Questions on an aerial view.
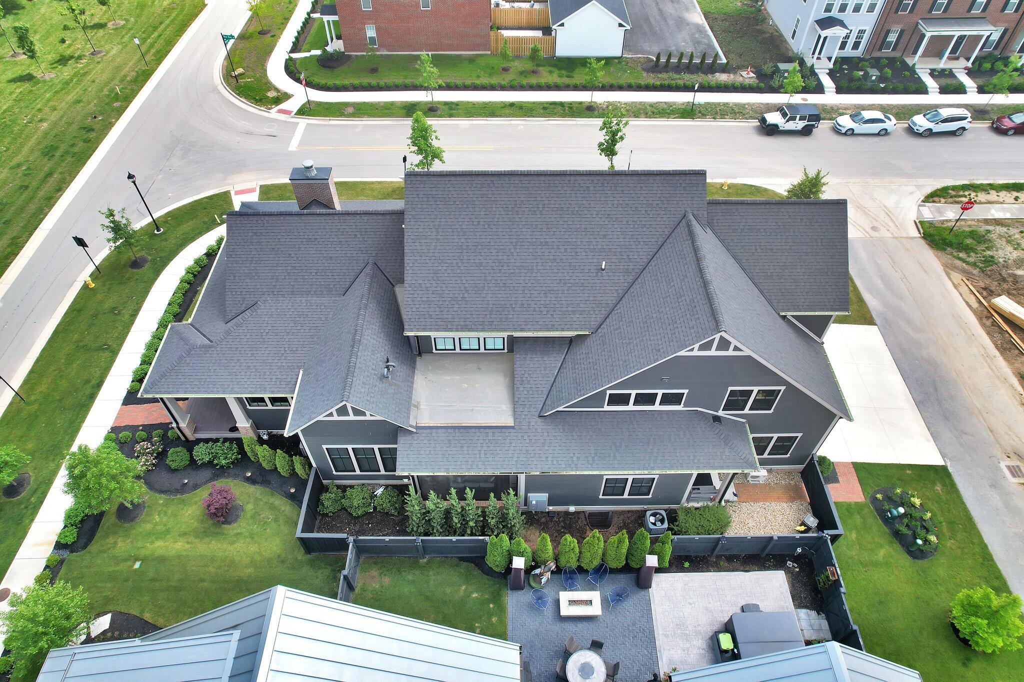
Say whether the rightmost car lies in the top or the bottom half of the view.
top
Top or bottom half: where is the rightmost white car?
top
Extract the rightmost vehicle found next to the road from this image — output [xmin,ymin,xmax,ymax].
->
[985,105,1024,135]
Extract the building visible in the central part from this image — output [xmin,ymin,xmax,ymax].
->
[138,156,856,515]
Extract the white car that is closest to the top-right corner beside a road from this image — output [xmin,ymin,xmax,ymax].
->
[902,102,977,135]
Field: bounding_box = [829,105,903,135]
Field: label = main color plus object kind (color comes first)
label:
white car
